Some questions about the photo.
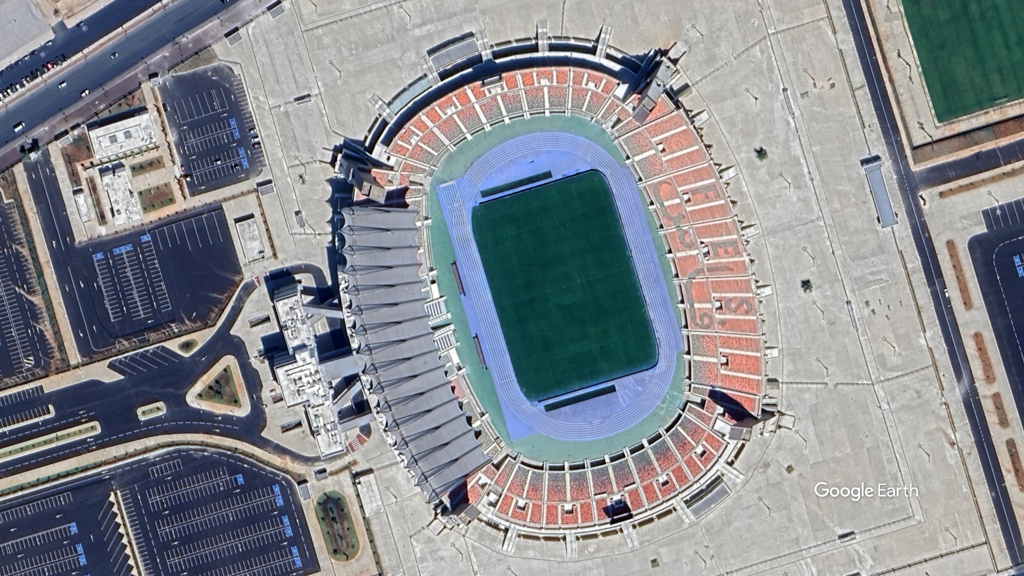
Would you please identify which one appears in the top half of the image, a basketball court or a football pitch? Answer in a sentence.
What appears in the top half of the image is a football pitch.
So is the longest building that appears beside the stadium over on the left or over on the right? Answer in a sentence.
You can find the longest building that appears beside the stadium on the left side of the picture.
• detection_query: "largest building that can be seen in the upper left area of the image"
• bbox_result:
[88,109,158,161]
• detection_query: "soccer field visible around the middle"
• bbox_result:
[471,172,658,402]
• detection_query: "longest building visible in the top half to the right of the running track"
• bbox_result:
[863,159,899,229]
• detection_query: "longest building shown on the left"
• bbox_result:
[257,283,349,459]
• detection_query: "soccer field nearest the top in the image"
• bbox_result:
[869,0,1024,147]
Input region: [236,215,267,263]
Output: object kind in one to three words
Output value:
building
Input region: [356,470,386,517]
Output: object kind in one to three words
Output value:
building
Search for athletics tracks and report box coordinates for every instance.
[430,115,683,463]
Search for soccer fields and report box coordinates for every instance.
[869,0,1024,147]
[471,172,658,402]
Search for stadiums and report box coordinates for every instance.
[320,19,795,558]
